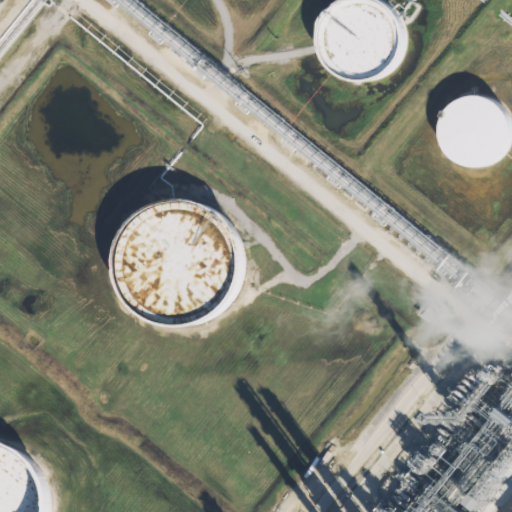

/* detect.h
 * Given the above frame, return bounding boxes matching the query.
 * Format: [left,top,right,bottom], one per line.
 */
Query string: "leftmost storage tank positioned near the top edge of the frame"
[314,0,408,83]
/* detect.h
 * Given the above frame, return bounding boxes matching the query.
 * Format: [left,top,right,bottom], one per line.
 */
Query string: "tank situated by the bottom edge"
[0,441,49,512]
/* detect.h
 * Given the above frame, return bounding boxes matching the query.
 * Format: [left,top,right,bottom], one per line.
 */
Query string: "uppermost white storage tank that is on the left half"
[110,198,246,330]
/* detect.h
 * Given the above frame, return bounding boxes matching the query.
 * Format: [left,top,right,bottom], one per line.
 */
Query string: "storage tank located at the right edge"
[436,91,512,172]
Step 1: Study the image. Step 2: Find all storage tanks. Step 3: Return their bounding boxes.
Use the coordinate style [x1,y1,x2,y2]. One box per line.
[436,91,512,172]
[314,0,408,83]
[110,198,246,330]
[0,441,49,512]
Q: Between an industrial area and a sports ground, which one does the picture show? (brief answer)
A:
industrial area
